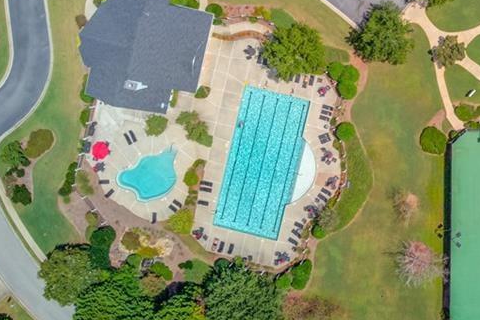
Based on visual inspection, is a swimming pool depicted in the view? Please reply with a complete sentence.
Yes, a swimming pool appears in the view.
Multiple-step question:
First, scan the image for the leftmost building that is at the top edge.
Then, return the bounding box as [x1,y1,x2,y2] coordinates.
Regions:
[79,0,219,114]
